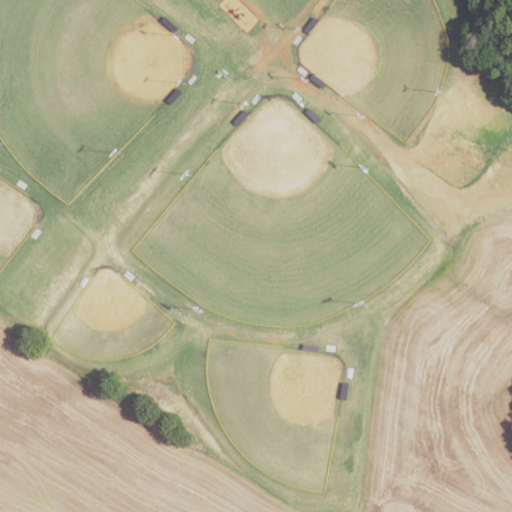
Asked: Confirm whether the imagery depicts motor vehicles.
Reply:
No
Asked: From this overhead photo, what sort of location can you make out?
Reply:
sports ground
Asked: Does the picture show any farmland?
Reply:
Yes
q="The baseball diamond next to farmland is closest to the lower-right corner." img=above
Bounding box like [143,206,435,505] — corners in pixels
[208,340,344,490]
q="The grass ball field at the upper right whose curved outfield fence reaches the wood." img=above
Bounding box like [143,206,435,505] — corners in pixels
[298,0,447,140]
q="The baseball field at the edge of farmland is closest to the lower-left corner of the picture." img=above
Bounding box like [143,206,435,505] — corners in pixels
[52,266,174,360]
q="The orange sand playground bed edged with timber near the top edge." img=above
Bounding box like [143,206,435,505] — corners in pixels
[219,0,259,32]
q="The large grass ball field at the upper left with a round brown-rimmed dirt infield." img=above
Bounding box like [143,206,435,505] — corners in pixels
[0,0,192,203]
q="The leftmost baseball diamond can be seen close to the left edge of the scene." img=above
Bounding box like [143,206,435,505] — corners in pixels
[0,179,43,266]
